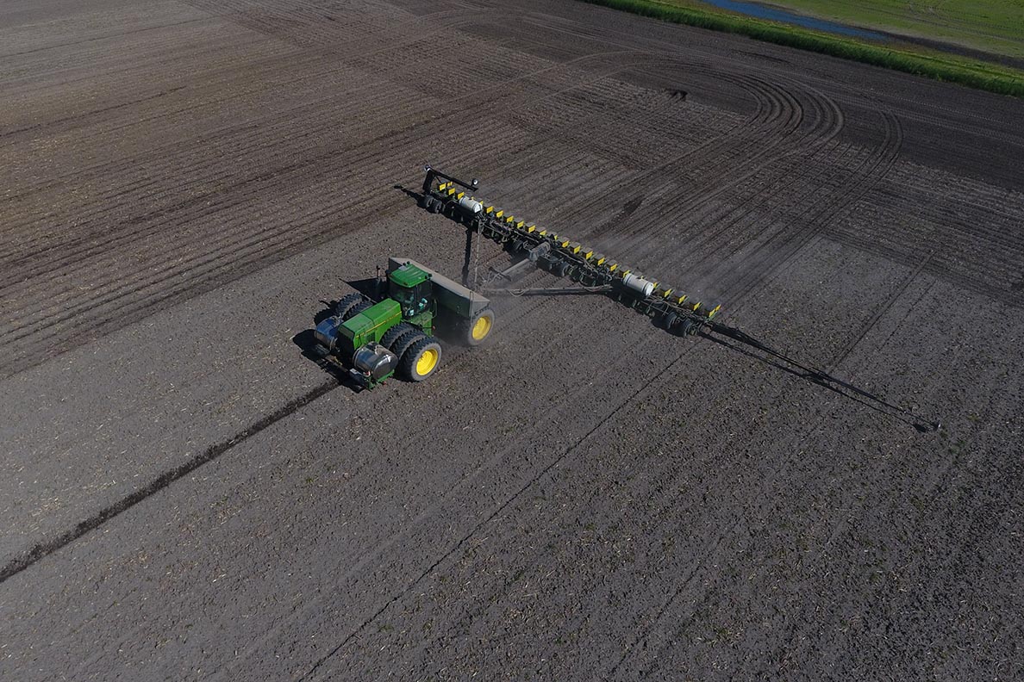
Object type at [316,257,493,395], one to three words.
work vehicle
